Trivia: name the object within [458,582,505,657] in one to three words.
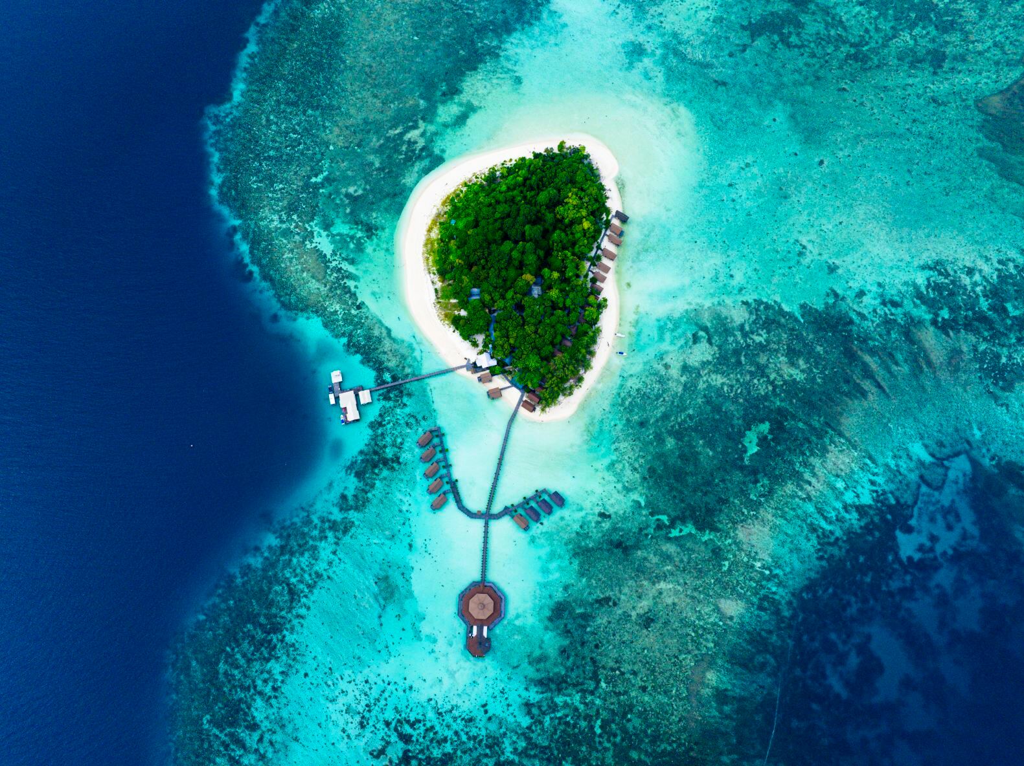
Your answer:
building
